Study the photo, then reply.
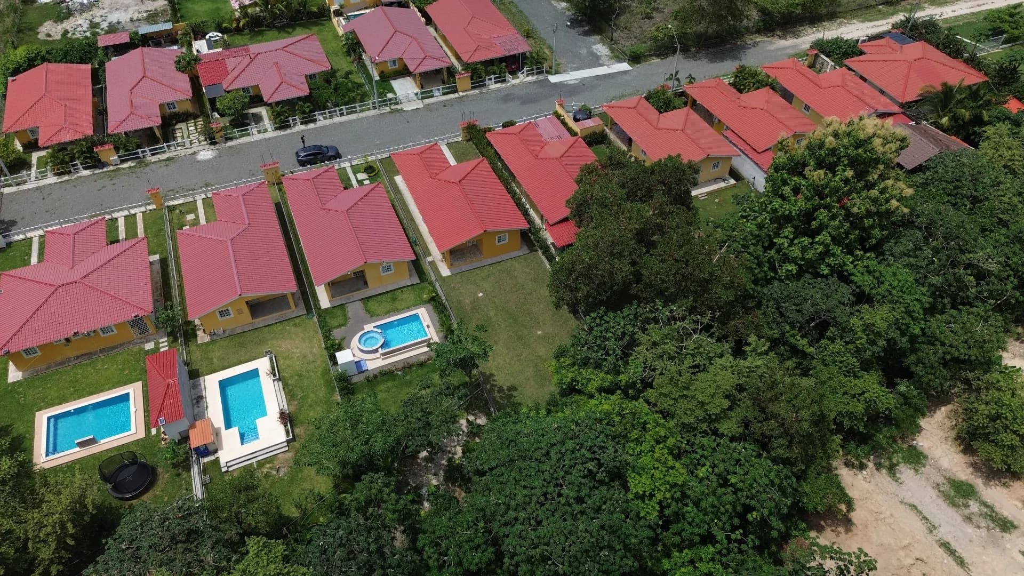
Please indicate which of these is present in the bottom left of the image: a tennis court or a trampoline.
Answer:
trampoline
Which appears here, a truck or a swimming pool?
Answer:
swimming pool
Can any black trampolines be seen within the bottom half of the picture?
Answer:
Yes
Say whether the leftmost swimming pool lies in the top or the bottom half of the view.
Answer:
bottom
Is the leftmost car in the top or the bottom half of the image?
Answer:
top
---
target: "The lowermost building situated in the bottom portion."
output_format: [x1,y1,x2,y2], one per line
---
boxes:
[187,415,217,462]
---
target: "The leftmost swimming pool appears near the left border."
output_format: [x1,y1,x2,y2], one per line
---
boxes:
[32,381,145,473]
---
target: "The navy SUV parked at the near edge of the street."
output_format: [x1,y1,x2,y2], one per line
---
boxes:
[295,140,340,163]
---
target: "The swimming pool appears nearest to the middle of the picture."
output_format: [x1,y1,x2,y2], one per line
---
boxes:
[349,309,443,373]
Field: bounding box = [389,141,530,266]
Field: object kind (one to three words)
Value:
house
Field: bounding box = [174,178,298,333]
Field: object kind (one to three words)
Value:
house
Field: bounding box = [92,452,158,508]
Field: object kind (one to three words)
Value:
trampoline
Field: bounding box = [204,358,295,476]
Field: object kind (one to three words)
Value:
swimming pool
